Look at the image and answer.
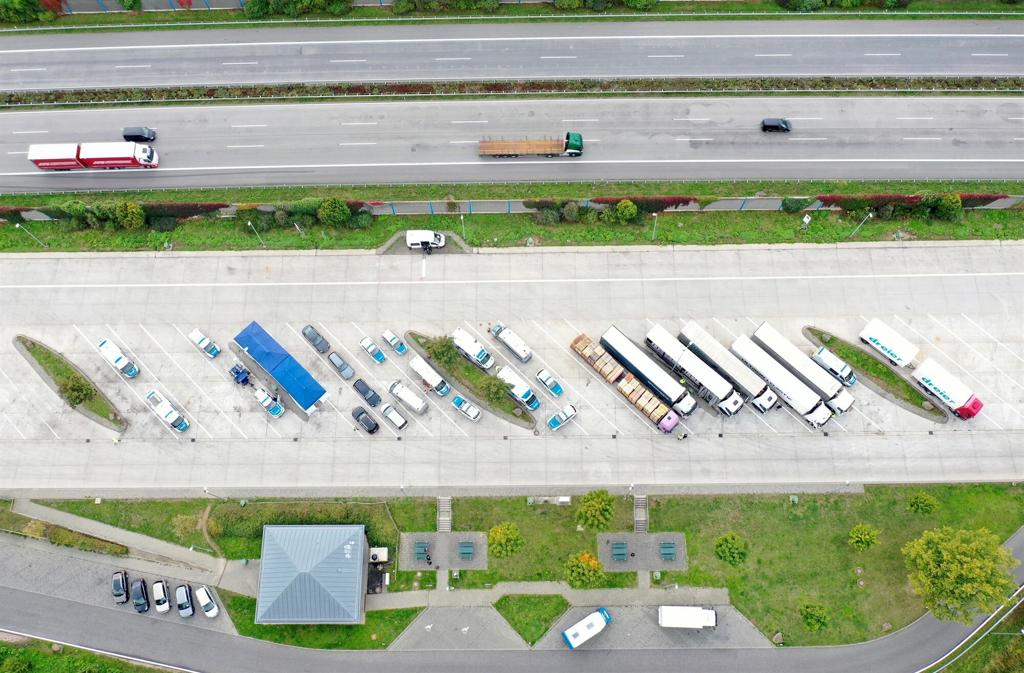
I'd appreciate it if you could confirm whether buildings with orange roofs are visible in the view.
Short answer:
No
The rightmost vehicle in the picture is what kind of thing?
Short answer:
truck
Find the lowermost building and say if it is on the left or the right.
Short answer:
left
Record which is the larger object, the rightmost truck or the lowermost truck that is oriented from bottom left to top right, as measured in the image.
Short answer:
the rightmost truck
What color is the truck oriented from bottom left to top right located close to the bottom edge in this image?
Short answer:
white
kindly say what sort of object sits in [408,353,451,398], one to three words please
van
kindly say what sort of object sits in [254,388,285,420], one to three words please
car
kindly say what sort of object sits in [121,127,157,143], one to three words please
vehicle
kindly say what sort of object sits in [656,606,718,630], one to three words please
truck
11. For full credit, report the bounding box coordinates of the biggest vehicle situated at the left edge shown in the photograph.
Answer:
[28,142,163,172]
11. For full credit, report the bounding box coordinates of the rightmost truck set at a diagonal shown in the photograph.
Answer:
[857,319,983,423]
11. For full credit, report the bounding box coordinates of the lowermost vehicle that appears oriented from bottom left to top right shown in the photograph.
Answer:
[562,606,611,649]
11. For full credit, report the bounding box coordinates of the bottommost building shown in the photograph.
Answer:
[254,525,366,624]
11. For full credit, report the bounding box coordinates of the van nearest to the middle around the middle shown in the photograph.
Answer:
[492,325,533,366]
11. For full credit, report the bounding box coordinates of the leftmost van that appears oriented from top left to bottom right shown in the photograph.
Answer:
[95,336,142,381]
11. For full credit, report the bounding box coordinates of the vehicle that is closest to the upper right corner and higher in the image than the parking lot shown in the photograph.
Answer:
[759,118,792,135]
